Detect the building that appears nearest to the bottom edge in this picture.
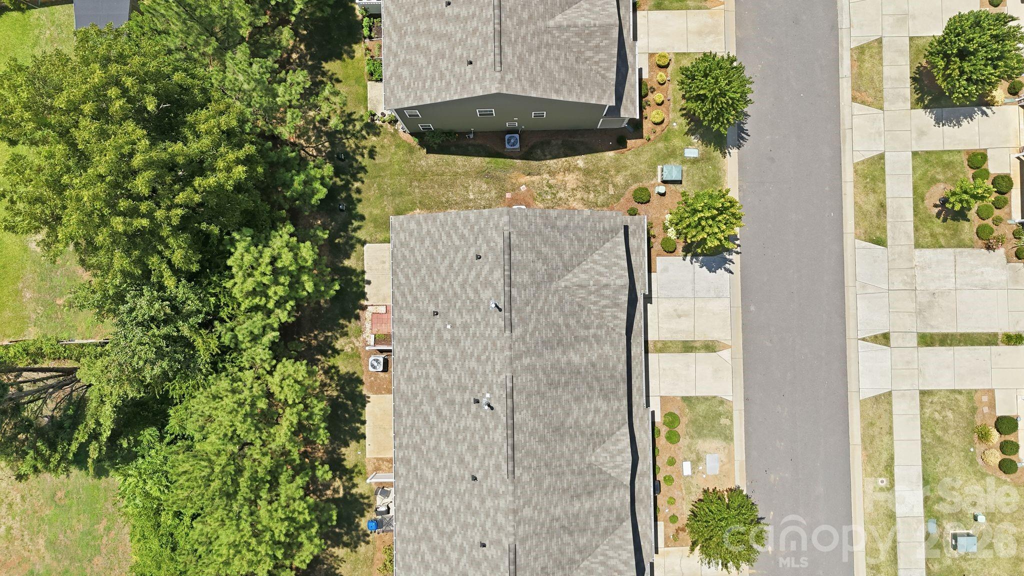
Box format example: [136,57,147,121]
[389,208,655,576]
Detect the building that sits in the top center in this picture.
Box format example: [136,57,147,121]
[382,0,640,132]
